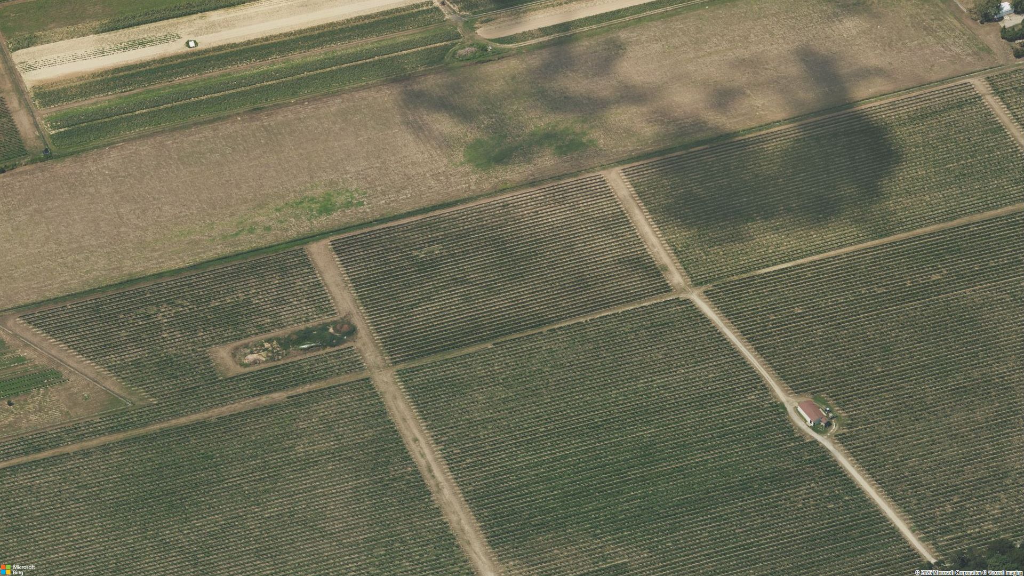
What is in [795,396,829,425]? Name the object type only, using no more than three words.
barn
